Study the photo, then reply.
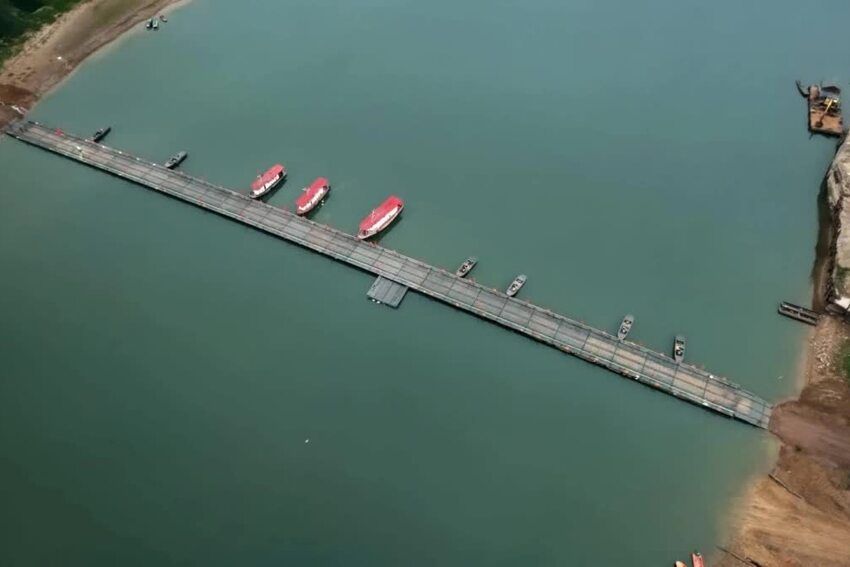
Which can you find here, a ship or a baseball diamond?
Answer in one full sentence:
This aerial view contains a ship.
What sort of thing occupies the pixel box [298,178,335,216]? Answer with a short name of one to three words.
boat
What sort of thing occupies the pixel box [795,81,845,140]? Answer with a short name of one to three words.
ship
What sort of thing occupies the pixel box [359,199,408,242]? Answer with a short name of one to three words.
boat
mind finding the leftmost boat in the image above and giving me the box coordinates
[91,128,111,143]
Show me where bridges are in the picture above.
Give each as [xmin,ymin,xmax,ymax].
[0,115,775,431]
